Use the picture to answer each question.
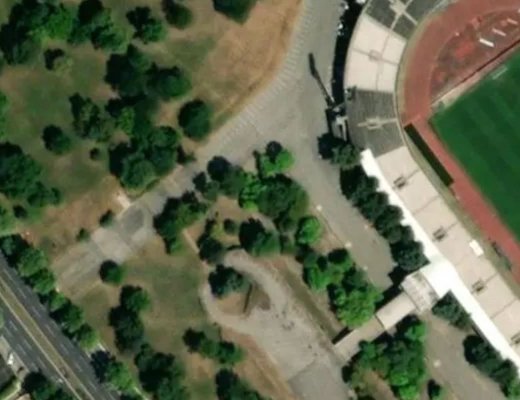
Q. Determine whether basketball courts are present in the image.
No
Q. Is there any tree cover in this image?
Yes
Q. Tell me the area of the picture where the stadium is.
right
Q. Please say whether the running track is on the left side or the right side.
right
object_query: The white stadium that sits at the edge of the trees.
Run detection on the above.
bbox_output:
[336,0,520,387]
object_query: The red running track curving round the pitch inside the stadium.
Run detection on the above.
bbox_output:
[403,0,520,283]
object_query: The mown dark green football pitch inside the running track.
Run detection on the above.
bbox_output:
[429,38,520,236]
